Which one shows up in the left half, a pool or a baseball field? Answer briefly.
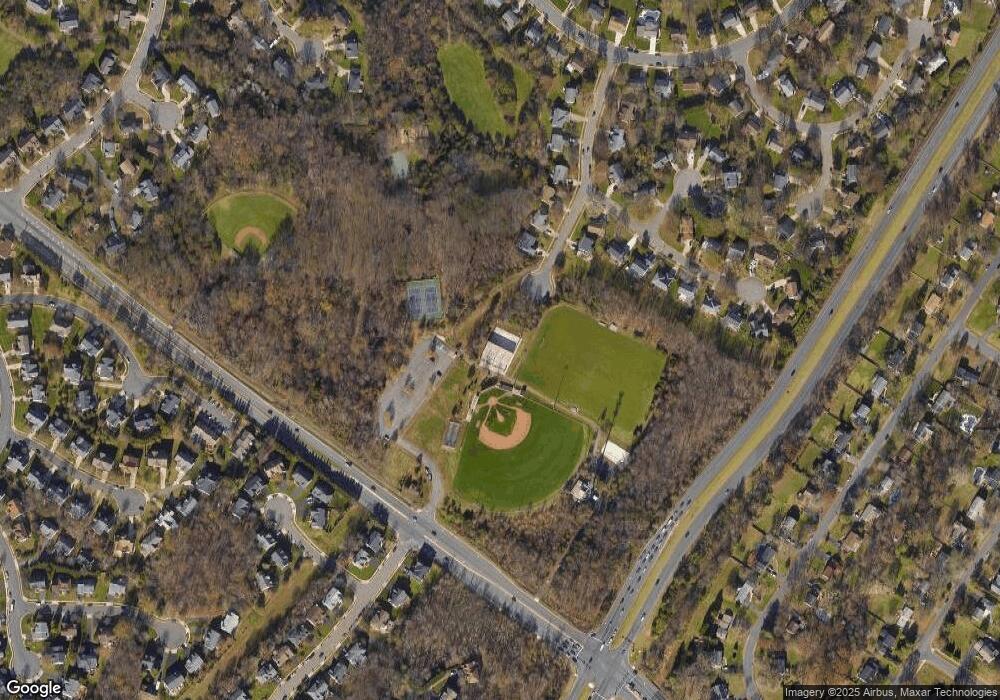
baseball field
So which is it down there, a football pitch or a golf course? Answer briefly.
football pitch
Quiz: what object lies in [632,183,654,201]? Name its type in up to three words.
house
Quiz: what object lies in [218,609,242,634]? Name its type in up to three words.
house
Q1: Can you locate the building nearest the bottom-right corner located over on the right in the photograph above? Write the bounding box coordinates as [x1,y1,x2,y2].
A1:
[976,637,999,663]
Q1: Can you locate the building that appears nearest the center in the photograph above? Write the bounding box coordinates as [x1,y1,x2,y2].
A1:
[480,329,520,379]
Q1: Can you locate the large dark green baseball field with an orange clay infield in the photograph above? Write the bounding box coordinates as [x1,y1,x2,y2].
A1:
[453,386,588,509]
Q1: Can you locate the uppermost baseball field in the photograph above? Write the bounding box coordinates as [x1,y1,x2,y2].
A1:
[209,192,296,257]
